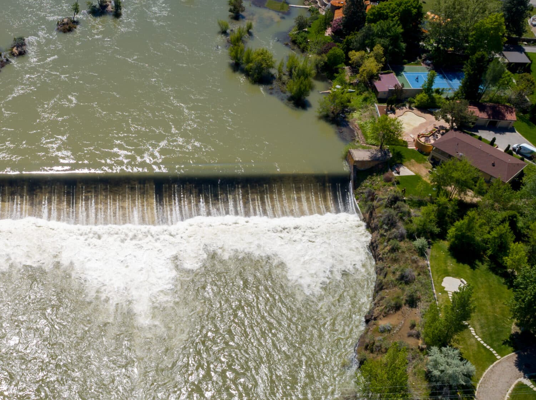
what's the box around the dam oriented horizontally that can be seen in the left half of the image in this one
[0,178,358,226]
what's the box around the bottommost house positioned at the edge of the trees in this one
[426,129,525,186]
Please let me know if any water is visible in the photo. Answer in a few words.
Yes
